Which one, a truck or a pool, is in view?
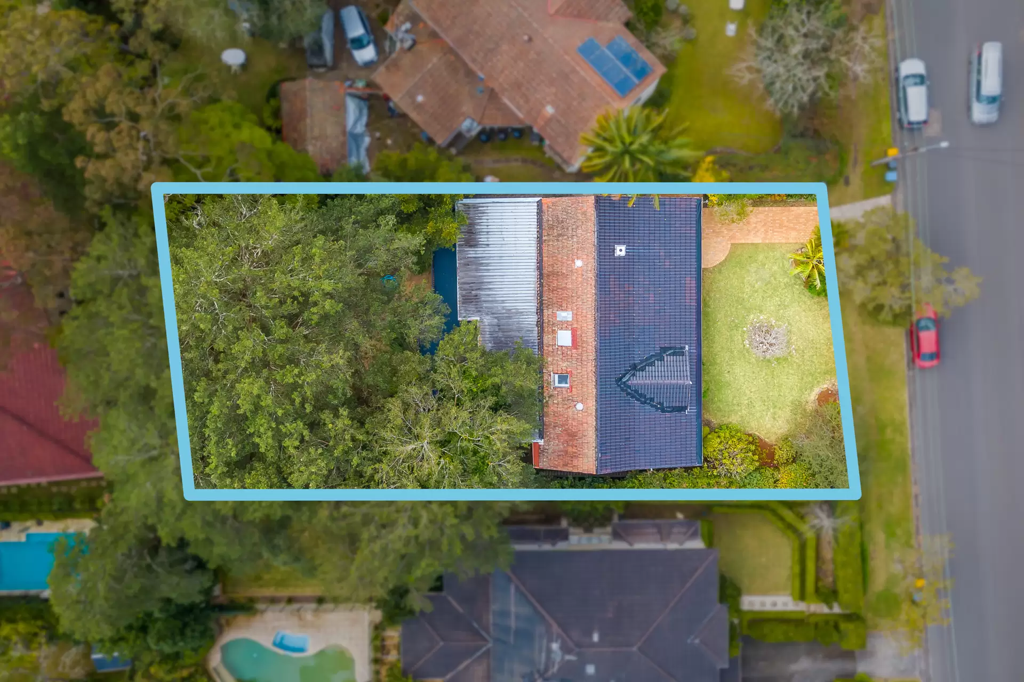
pool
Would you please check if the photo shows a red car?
Yes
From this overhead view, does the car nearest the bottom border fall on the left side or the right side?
right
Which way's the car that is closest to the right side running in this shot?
vertically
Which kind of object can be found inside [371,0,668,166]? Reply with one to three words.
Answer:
house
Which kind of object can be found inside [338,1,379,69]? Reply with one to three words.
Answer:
car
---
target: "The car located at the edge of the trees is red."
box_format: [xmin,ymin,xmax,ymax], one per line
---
[909,307,942,369]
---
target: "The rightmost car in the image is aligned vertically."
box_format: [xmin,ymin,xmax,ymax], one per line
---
[967,44,1005,123]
